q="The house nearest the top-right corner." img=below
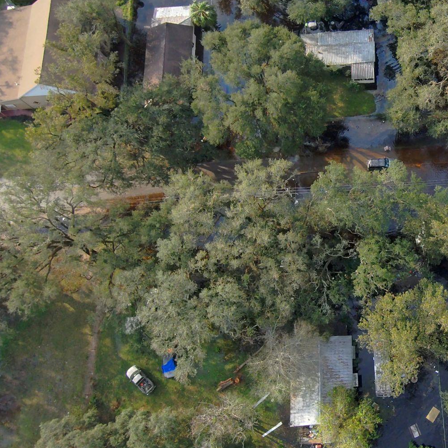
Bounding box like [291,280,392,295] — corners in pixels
[300,29,375,84]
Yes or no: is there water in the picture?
Yes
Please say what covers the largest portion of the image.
trees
